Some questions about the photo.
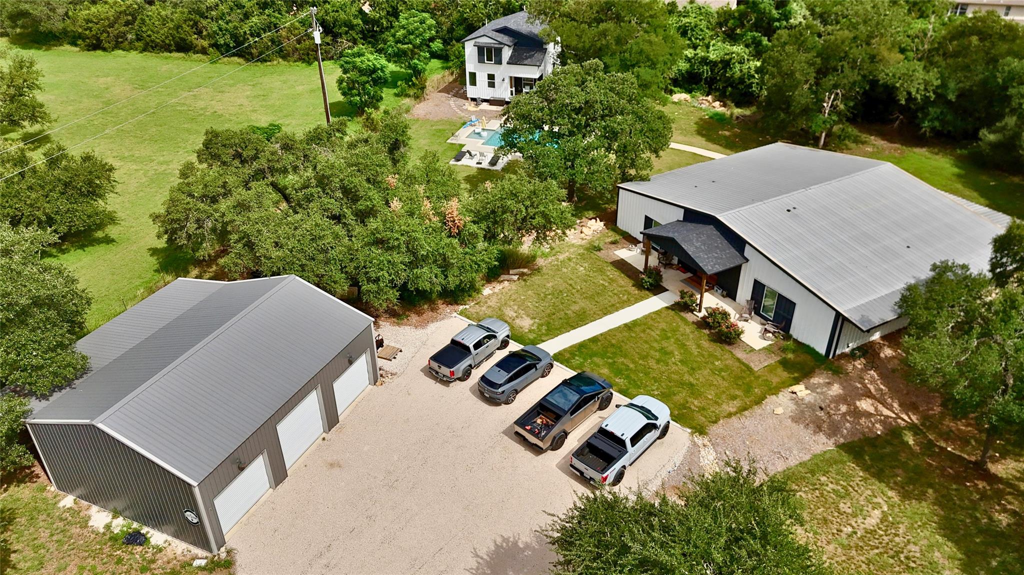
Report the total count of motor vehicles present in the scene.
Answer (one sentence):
The number of motor vehicles here is 4.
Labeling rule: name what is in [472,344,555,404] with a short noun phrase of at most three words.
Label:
car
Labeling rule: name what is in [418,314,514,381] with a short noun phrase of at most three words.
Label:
truck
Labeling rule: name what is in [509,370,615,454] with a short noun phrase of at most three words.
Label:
truck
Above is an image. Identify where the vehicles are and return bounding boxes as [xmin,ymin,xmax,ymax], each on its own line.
[472,344,555,404]
[509,370,615,454]
[564,394,676,489]
[418,314,514,381]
